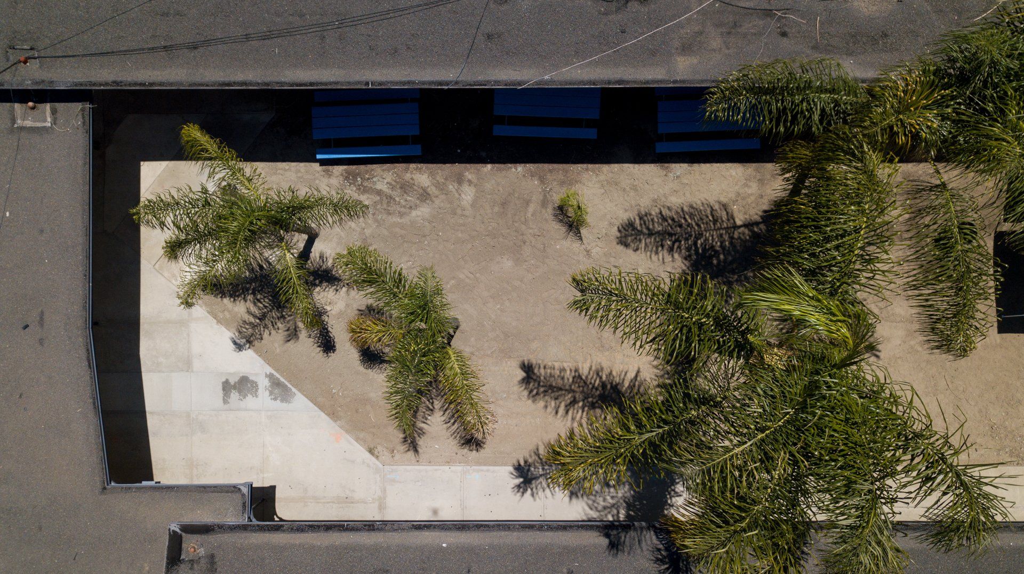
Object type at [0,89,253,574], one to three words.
building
